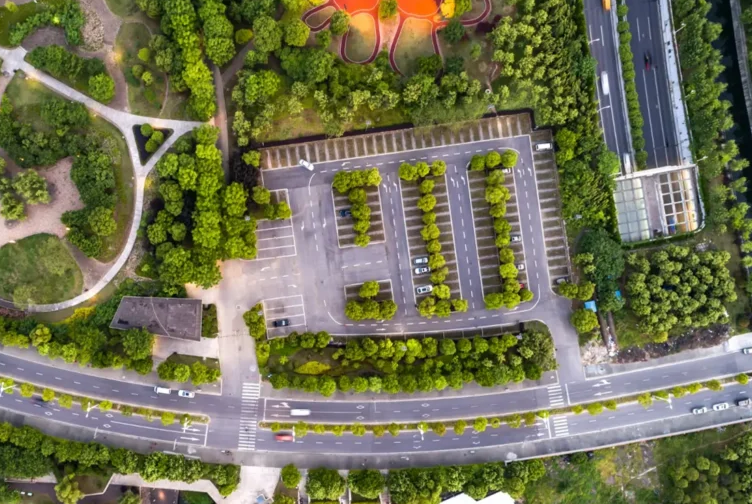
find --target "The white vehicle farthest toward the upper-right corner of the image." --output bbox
[599,70,611,94]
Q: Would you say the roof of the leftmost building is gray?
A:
Yes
